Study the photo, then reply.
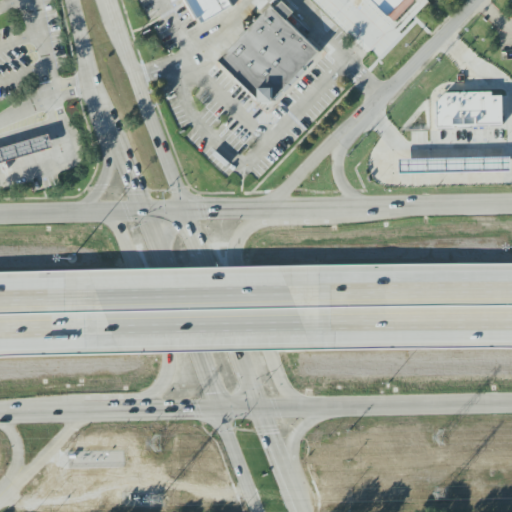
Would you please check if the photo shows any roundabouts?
No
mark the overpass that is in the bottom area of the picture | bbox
[0,262,512,356]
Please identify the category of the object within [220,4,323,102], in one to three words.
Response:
building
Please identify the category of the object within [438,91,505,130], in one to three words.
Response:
building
